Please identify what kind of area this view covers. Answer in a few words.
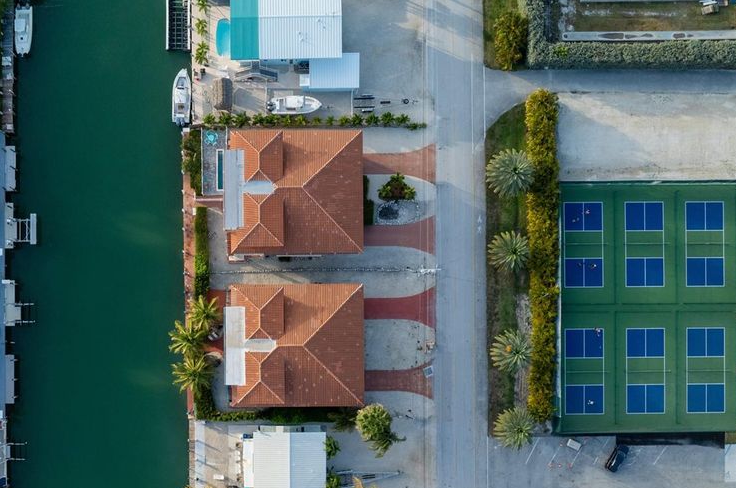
residential area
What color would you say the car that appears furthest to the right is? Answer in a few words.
black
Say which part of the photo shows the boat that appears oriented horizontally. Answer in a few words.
top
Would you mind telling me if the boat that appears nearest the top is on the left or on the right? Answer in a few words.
left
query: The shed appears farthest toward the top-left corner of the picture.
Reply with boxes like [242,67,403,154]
[210,71,233,108]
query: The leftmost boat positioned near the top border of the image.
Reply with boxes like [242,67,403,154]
[8,0,32,56]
